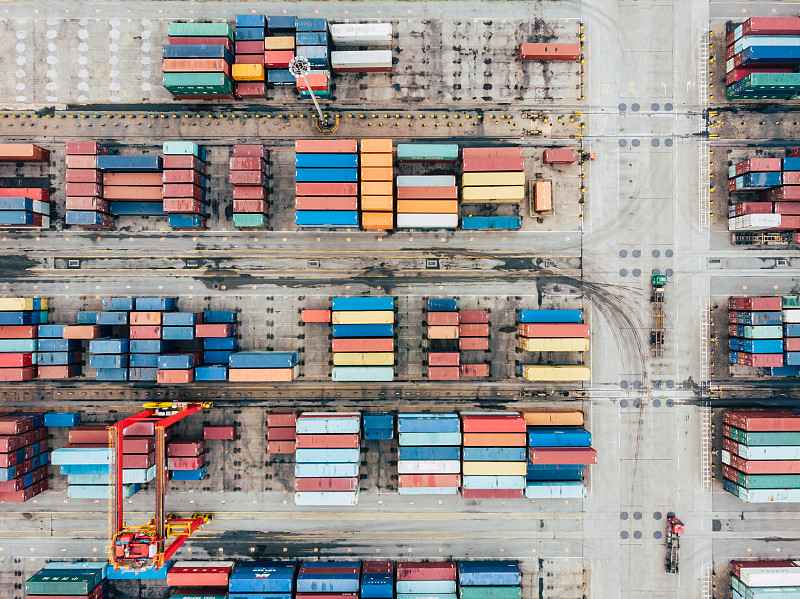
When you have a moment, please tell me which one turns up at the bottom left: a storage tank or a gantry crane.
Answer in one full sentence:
The one visible at the bottom left is a gantry crane.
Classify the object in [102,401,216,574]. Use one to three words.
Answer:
container crane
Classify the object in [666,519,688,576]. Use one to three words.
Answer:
truck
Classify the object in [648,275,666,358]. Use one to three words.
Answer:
vehicle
